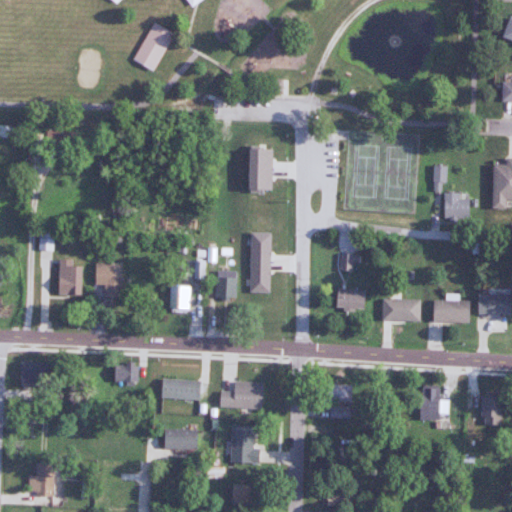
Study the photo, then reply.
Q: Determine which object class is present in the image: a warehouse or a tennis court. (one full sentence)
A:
This aerial view contains a tennis court.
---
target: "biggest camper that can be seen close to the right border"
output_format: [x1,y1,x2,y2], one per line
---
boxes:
[489,320,508,332]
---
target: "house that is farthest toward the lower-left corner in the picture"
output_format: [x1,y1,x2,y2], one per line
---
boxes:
[28,466,56,498]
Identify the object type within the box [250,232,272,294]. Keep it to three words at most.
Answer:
building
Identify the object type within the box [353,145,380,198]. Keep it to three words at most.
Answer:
tennis court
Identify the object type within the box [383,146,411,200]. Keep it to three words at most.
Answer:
tennis court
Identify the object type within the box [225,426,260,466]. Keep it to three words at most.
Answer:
house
